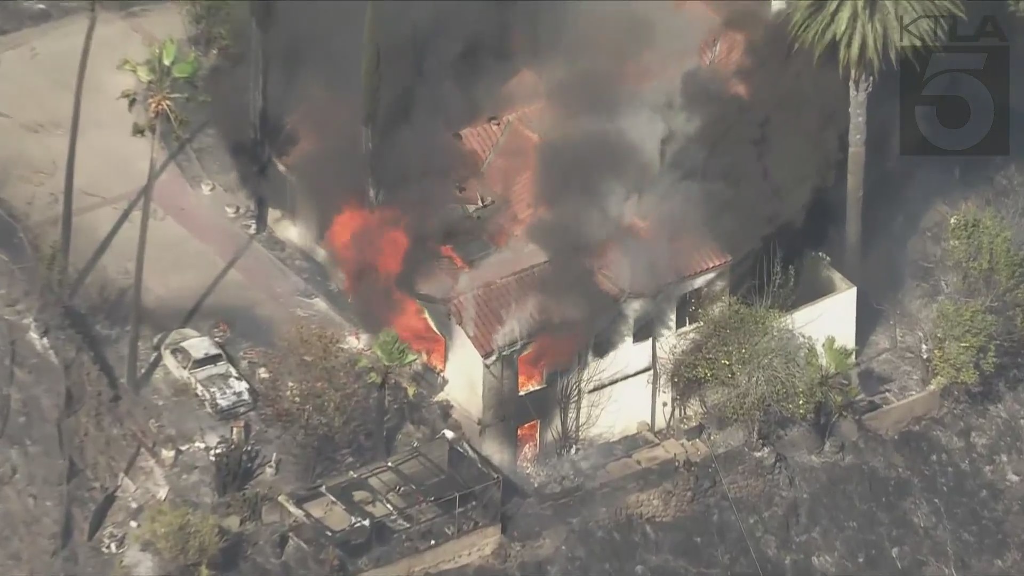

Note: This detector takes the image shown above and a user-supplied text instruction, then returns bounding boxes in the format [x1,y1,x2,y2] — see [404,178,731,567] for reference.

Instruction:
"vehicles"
[158,321,256,420]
